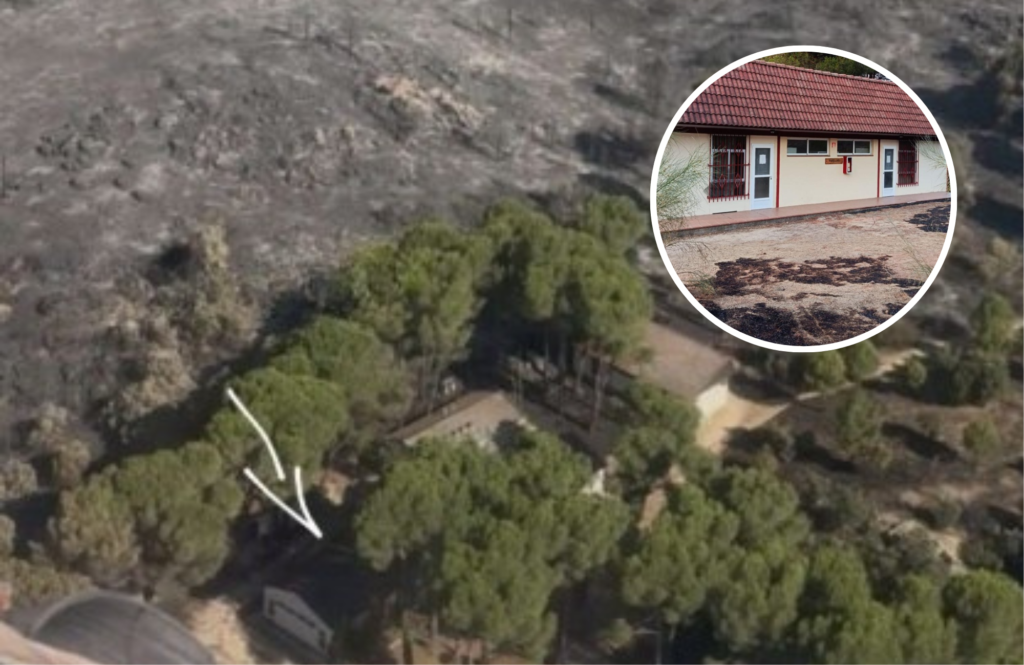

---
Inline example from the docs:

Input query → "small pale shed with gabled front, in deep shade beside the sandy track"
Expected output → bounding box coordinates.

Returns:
[262,576,342,654]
